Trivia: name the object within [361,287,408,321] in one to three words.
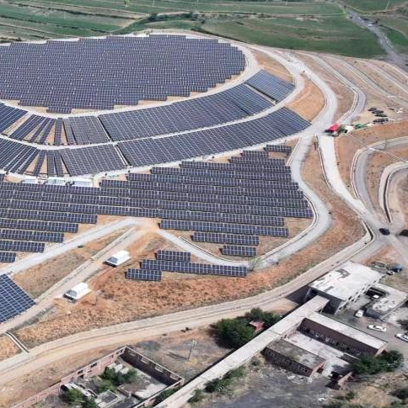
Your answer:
building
